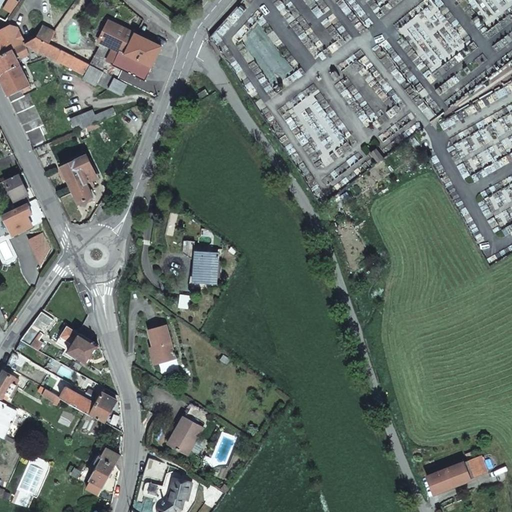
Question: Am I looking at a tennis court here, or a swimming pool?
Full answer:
This aerial view contains a swimming pool.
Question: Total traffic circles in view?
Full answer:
Only 1 traffic circle is visible.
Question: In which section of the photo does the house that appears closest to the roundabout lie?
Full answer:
You can find the house that appears closest to the roundabout in the left area of the picture.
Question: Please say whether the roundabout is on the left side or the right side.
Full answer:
The roundabout is on the left side of the image.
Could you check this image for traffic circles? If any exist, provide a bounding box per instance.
[54,213,129,294]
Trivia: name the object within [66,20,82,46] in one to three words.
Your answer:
swimming pool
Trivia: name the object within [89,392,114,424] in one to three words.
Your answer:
house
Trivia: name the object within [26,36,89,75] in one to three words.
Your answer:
shed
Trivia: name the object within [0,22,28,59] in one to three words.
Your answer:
house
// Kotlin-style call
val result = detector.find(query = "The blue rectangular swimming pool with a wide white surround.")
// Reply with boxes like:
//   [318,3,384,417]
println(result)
[204,434,238,468]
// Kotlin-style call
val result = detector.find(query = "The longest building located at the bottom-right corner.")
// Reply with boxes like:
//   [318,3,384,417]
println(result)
[426,456,489,496]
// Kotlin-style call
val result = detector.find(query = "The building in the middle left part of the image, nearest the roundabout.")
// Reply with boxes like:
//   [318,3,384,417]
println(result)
[28,232,56,267]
